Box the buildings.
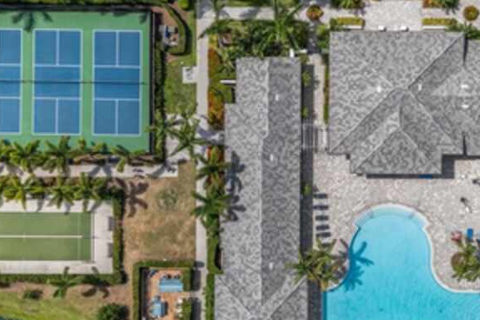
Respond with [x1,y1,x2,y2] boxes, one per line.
[215,54,308,320]
[330,21,480,175]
